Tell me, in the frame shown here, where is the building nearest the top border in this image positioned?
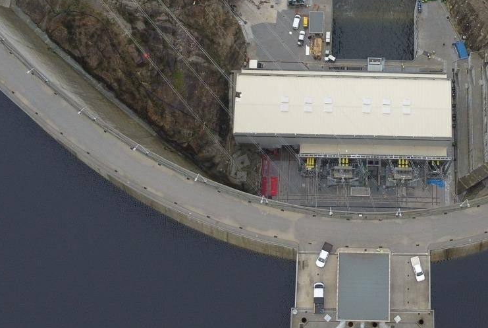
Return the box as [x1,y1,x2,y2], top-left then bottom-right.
[309,12,323,36]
